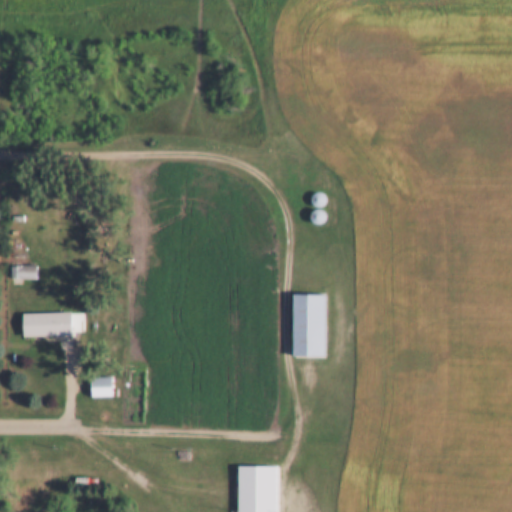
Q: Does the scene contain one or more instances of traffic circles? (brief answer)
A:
No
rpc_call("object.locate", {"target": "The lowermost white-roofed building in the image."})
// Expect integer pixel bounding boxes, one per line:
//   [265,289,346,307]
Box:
[238,466,280,512]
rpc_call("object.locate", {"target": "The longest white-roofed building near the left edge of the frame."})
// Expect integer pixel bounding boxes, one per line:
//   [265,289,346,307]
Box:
[22,312,87,338]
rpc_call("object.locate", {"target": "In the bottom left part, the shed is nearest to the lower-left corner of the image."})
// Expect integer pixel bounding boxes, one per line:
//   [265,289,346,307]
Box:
[90,376,116,398]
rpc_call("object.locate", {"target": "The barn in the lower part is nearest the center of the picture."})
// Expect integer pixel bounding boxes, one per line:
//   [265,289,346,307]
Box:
[292,294,327,358]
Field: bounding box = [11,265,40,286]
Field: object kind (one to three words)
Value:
building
